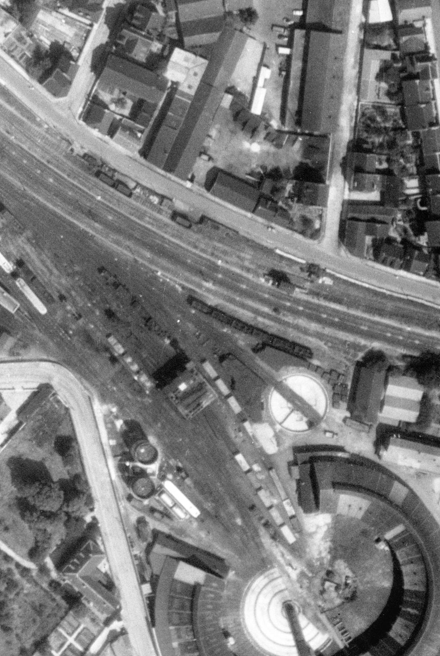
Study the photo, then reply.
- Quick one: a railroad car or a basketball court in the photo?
railroad car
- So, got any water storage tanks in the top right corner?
No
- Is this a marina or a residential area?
residential area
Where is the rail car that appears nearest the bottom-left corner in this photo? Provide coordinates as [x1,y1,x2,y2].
[164,480,199,518]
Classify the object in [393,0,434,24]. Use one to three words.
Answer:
house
